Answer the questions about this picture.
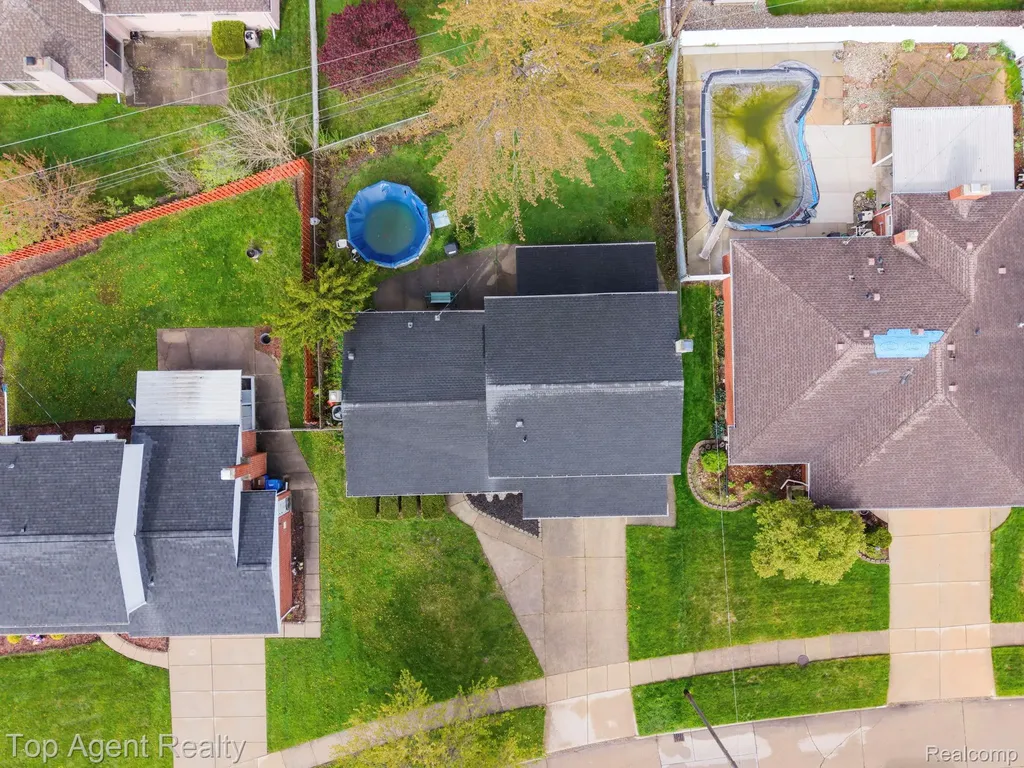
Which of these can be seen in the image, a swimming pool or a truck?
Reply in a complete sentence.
It is a swimming pool that can be seen here.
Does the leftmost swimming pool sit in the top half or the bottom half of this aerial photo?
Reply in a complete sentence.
You can find the leftmost swimming pool in the top half.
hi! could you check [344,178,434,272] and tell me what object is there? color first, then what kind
blue swimming pool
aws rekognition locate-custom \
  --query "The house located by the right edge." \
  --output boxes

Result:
[718,104,1024,510]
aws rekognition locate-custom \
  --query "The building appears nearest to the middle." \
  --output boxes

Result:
[343,241,693,519]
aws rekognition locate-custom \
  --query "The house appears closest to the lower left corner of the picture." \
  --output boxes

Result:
[0,370,300,637]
